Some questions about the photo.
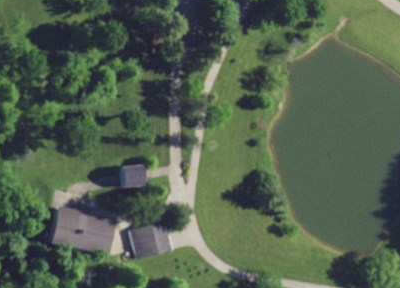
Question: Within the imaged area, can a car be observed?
No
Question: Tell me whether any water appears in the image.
Yes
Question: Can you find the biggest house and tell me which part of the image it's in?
bottom left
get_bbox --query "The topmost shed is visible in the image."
[119,164,144,188]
